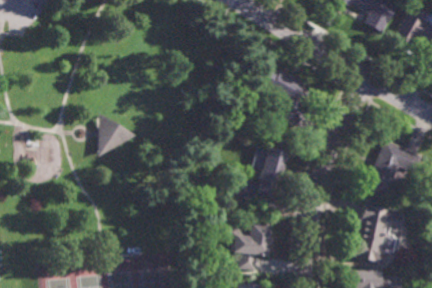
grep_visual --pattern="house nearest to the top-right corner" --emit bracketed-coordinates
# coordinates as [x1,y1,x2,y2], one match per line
[390,10,428,45]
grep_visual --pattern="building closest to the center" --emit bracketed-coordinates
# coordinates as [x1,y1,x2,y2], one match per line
[251,150,290,192]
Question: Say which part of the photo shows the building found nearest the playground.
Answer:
left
